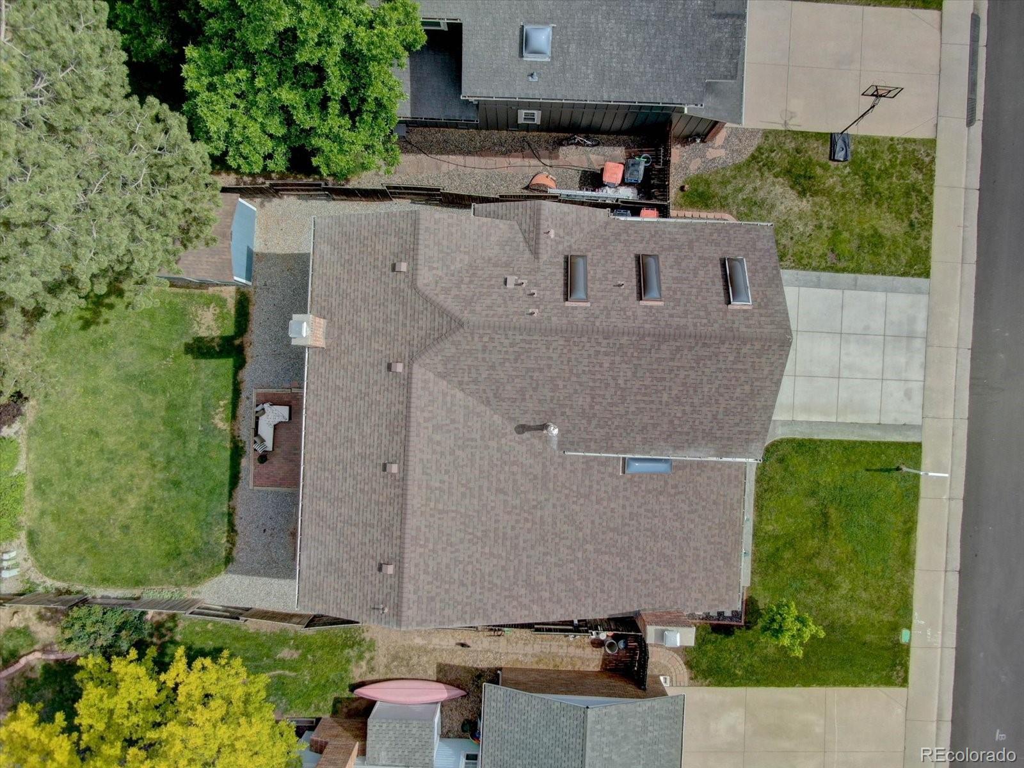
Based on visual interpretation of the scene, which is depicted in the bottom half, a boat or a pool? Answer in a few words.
boat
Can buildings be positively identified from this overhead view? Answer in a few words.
Yes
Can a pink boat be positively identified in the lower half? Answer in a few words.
Yes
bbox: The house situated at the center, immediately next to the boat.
[287,201,793,648]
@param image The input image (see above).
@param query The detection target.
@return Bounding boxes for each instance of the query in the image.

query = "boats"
[354,676,467,704]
